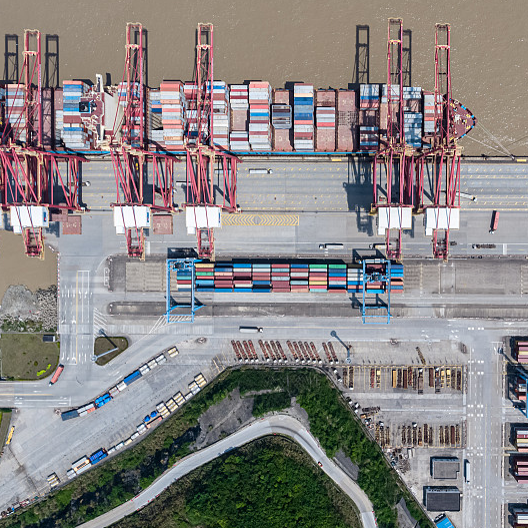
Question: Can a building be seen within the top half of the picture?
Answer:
No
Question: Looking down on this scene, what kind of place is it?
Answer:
port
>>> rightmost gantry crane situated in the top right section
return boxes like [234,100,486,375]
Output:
[412,22,462,260]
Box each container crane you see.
[412,22,462,260]
[358,258,394,323]
[373,16,414,260]
[181,22,242,260]
[510,369,528,416]
[166,258,208,323]
[104,23,181,260]
[0,28,92,260]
